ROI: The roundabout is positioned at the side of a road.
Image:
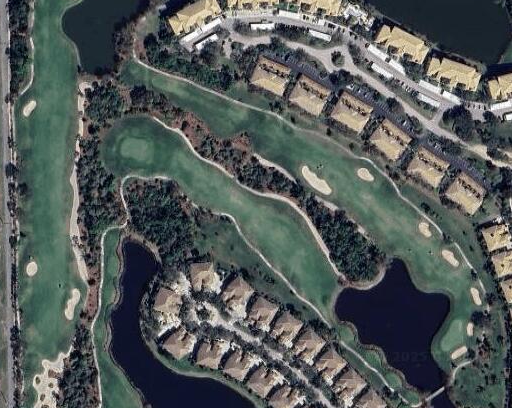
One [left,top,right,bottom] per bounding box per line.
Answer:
[267,34,365,81]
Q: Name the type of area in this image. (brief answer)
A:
golf course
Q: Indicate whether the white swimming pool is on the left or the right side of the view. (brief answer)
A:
right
